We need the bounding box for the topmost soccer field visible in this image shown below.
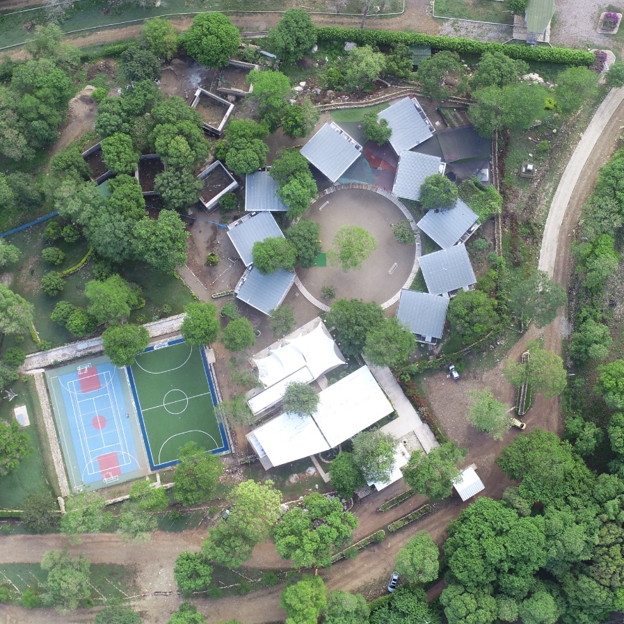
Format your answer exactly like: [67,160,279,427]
[127,336,229,473]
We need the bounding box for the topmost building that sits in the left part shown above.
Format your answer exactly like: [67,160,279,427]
[216,60,260,95]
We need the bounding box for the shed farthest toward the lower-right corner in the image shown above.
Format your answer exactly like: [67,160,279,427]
[454,461,485,501]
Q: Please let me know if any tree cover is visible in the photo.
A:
Yes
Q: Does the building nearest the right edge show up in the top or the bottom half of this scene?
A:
top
